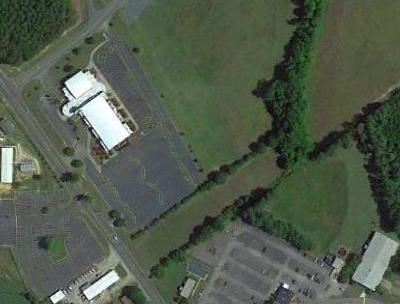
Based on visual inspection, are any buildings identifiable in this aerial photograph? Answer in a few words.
Yes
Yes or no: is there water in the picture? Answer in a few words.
No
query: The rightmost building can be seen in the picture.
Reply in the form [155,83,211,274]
[353,231,400,290]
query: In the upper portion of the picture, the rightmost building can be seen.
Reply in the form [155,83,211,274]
[61,71,132,151]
